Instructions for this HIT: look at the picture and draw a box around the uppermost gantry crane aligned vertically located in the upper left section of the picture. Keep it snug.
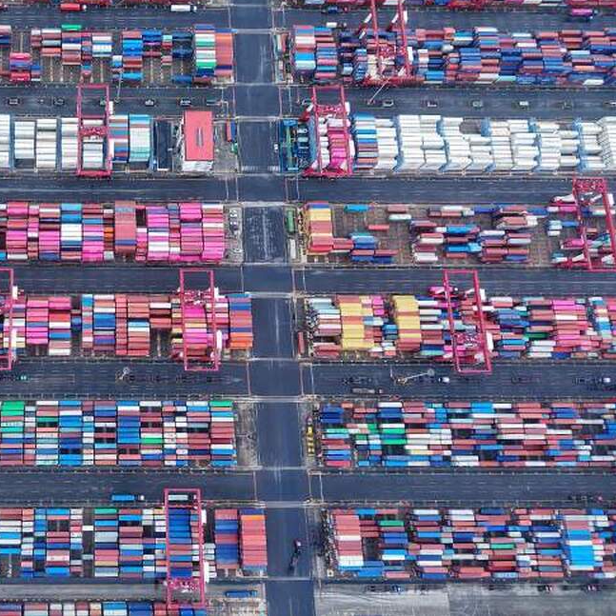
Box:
[69,86,116,176]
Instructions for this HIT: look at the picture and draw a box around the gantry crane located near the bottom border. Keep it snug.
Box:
[153,490,213,606]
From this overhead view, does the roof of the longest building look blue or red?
red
